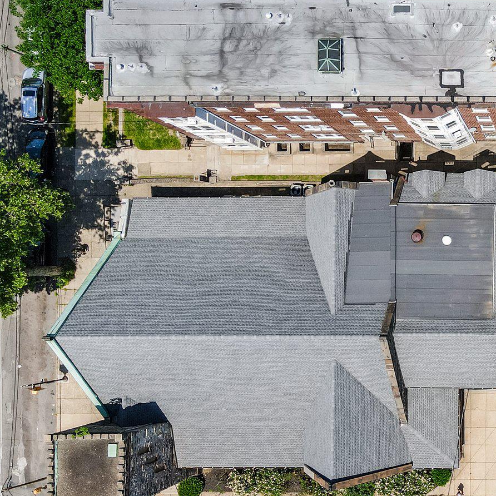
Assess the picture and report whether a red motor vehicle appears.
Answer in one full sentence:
No, no red motor vehicle can be seen from above.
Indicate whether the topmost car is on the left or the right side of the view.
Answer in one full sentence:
The topmost car appears in the left half of the scene.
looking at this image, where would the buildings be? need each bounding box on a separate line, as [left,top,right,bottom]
[87,0,496,153]
[40,171,496,496]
